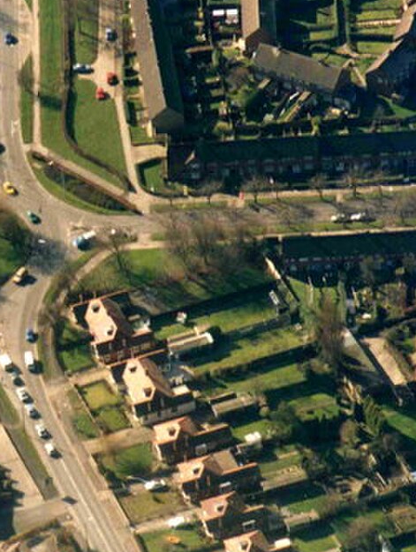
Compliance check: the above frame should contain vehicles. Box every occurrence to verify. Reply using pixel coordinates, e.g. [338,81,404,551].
[112,484,132,495]
[18,388,30,403]
[26,211,40,224]
[35,423,49,438]
[0,356,12,371]
[10,370,24,385]
[96,88,106,100]
[14,267,27,282]
[109,72,116,85]
[3,182,17,195]
[350,212,368,221]
[25,403,37,418]
[70,227,97,250]
[27,328,34,342]
[75,64,92,73]
[58,495,79,505]
[46,441,58,457]
[146,480,167,490]
[329,214,348,223]
[5,33,12,44]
